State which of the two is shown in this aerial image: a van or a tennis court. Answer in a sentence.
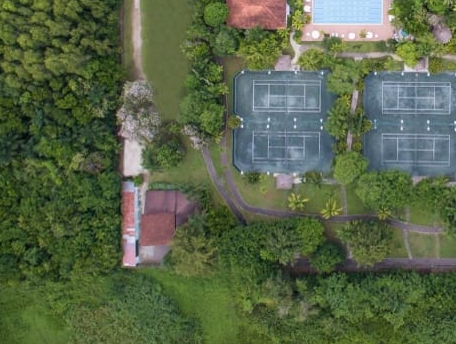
There is a tennis court in the scene.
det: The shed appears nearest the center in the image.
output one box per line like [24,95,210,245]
[273,173,300,189]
